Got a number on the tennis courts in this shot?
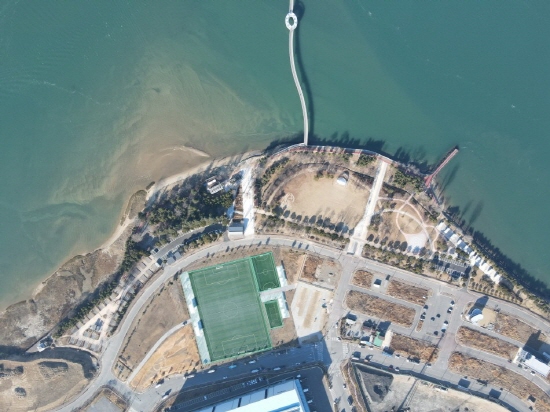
0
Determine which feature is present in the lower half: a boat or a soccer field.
soccer field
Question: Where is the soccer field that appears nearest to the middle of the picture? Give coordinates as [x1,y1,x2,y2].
[251,252,280,291]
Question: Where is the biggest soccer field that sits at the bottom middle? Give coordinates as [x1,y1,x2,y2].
[189,258,271,363]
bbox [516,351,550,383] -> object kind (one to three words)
building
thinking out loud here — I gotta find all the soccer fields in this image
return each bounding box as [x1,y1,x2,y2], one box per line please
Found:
[189,258,271,363]
[251,252,280,291]
[265,300,284,329]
